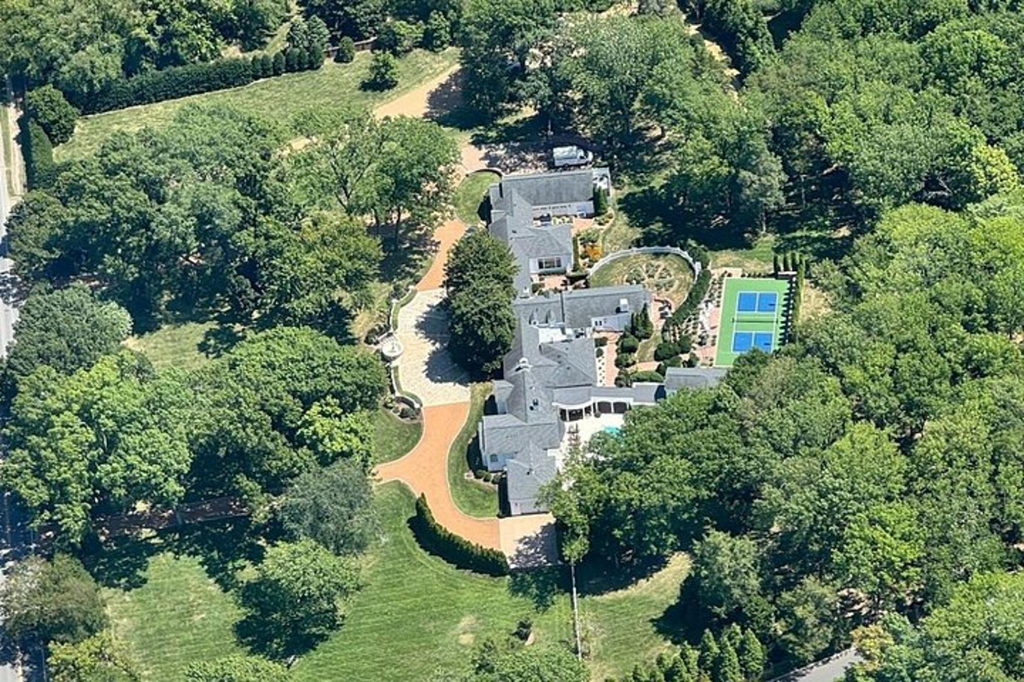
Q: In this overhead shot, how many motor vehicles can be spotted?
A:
1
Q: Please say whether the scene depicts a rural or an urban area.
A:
rural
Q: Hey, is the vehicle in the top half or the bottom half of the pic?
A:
top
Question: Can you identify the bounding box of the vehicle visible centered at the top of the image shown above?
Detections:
[552,147,593,172]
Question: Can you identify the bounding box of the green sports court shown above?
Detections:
[714,278,797,368]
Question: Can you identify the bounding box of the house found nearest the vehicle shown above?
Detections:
[478,169,650,513]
